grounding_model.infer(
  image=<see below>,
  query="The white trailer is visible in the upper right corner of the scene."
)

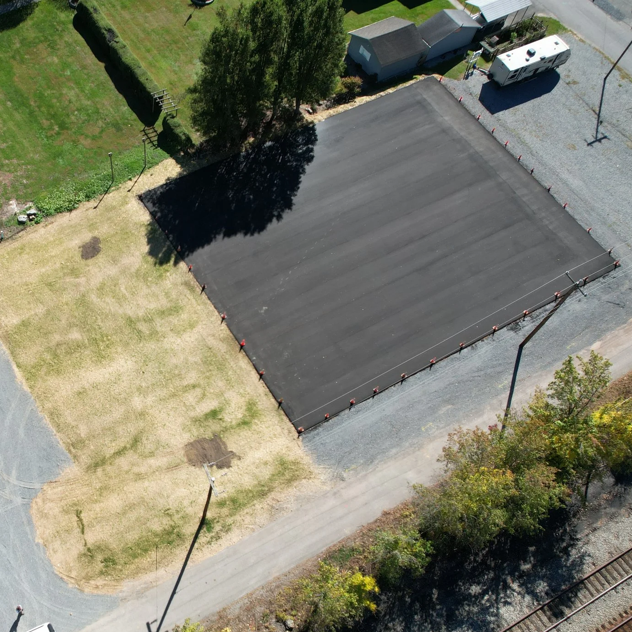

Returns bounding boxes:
[482,36,568,89]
